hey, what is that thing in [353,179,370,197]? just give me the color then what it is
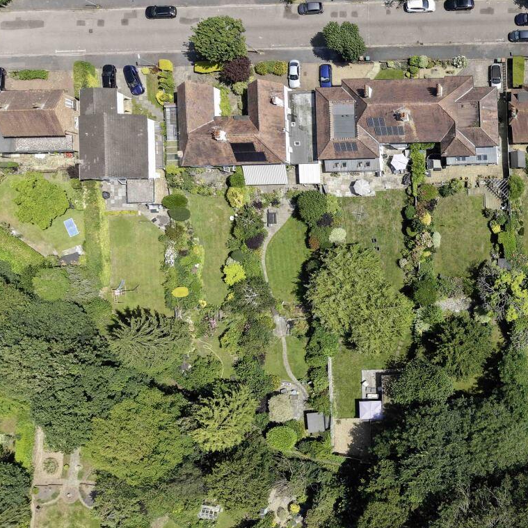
white umbrella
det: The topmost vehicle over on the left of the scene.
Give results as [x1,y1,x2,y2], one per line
[147,2,178,20]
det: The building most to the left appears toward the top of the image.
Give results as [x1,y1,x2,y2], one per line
[0,89,79,155]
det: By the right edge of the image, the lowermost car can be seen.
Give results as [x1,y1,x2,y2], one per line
[489,63,503,90]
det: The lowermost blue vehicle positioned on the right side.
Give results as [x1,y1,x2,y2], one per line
[318,63,332,87]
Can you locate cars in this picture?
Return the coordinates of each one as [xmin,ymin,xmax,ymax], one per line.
[508,27,528,42]
[299,0,325,15]
[147,2,178,20]
[124,64,146,96]
[318,63,332,87]
[104,63,117,88]
[287,60,301,88]
[444,0,475,12]
[489,63,503,90]
[404,0,436,13]
[515,10,528,26]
